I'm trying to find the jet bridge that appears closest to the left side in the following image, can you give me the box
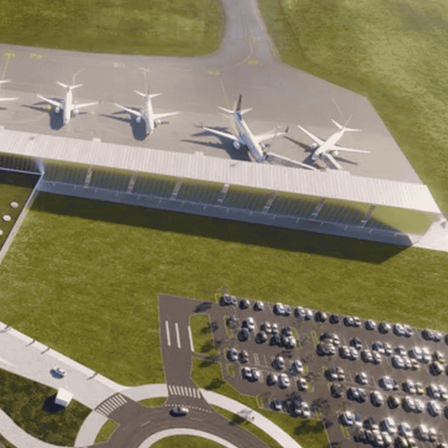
[266,148,319,170]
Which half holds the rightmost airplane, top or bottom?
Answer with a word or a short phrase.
top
